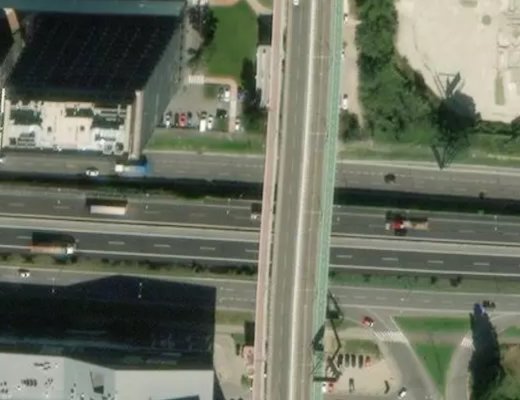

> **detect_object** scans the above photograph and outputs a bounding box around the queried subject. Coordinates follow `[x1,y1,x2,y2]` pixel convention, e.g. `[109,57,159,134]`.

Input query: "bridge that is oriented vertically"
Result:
[252,0,346,400]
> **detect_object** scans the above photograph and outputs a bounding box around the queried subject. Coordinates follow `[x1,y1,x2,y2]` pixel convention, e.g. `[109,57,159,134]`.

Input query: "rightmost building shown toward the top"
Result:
[255,39,272,105]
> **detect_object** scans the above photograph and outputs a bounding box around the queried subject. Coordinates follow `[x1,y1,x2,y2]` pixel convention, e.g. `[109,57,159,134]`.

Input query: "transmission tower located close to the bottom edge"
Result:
[313,354,340,390]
